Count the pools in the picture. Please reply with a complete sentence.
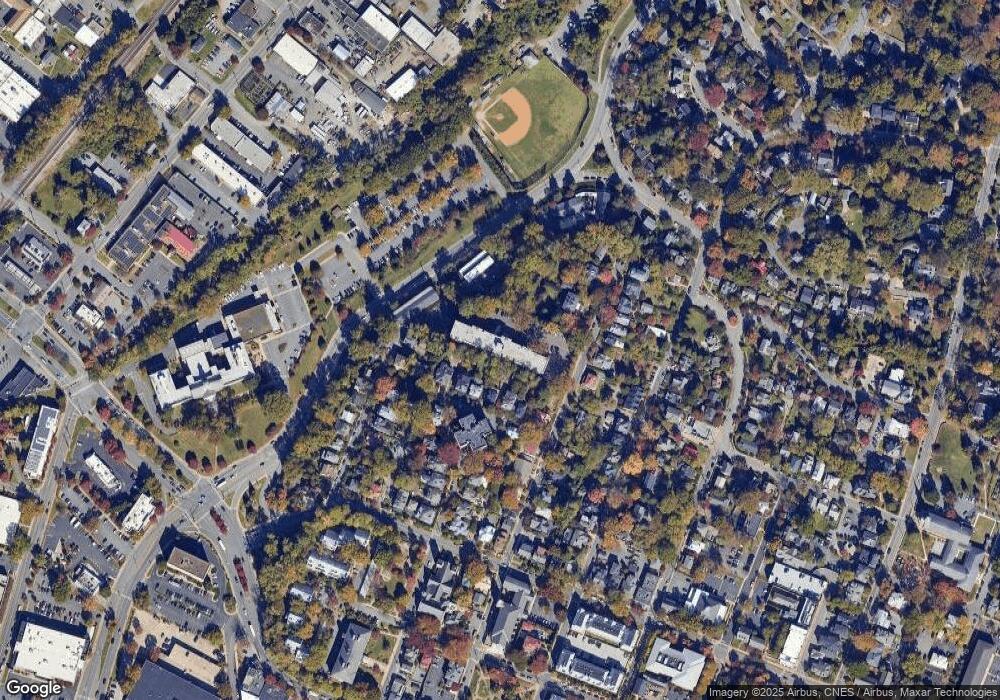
There are no pools in this view.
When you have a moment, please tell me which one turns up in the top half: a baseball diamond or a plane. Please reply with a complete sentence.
It is a baseball diamond that can be seen in the top half.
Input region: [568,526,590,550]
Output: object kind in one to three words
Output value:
house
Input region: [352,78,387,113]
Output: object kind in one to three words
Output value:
hangar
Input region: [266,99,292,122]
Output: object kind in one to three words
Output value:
shed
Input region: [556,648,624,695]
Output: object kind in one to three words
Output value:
building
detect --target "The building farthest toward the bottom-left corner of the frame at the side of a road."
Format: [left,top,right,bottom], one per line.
[15,622,87,686]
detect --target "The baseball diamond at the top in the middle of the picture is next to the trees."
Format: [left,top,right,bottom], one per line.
[474,58,588,182]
